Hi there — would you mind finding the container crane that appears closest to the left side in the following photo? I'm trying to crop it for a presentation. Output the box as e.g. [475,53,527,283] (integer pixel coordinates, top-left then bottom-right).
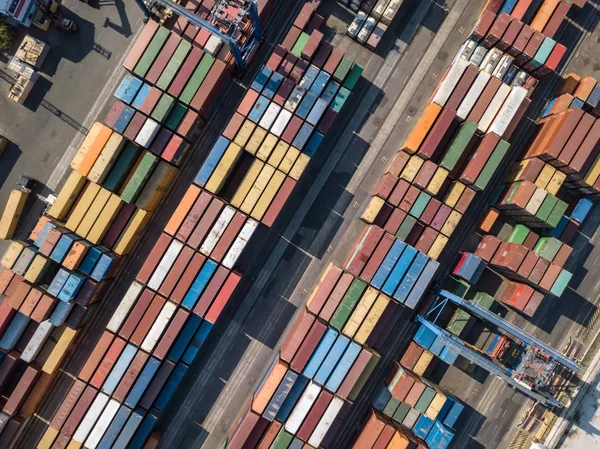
[138,0,267,74]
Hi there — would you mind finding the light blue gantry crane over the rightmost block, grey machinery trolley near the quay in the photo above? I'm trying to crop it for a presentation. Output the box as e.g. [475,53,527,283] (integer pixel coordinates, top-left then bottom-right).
[410,281,589,410]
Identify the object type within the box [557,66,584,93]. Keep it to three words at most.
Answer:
shipping container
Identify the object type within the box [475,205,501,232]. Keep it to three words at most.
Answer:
shipping container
